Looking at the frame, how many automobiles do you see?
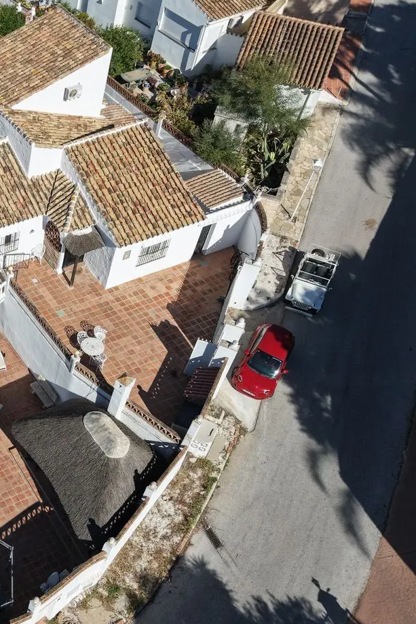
2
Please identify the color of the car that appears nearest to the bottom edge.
red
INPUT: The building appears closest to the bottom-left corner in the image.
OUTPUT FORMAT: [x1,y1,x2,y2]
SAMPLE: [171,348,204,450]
[11,398,163,552]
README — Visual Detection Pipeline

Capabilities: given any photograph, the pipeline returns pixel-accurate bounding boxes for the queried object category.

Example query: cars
[284,238,347,318]
[233,319,302,399]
